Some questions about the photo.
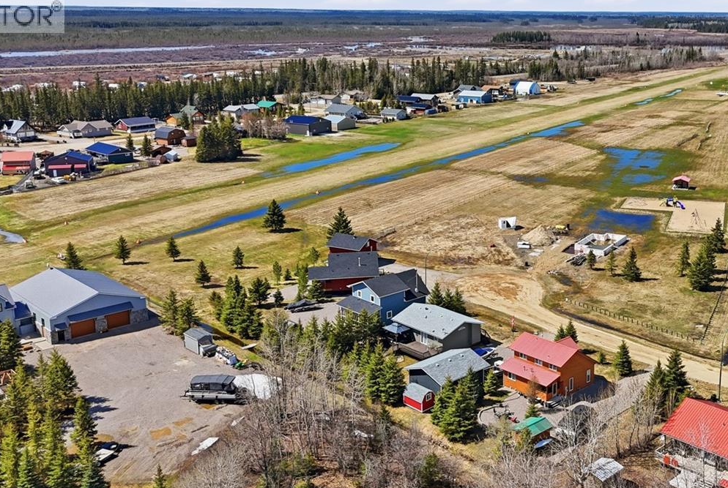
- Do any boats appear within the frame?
Yes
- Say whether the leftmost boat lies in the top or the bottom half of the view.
bottom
